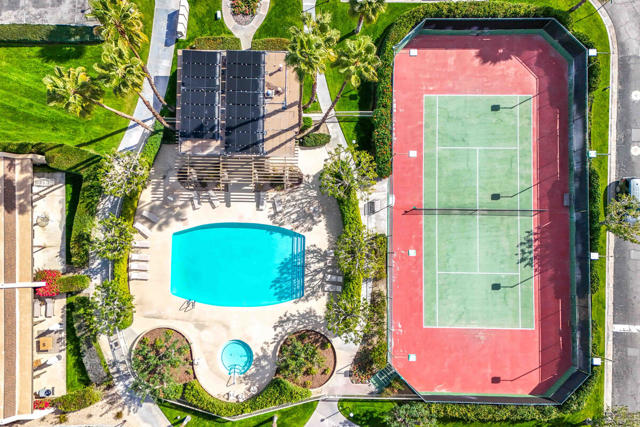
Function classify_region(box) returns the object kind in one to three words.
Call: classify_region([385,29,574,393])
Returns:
tennis court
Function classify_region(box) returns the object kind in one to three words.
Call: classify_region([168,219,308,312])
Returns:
swimming pool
